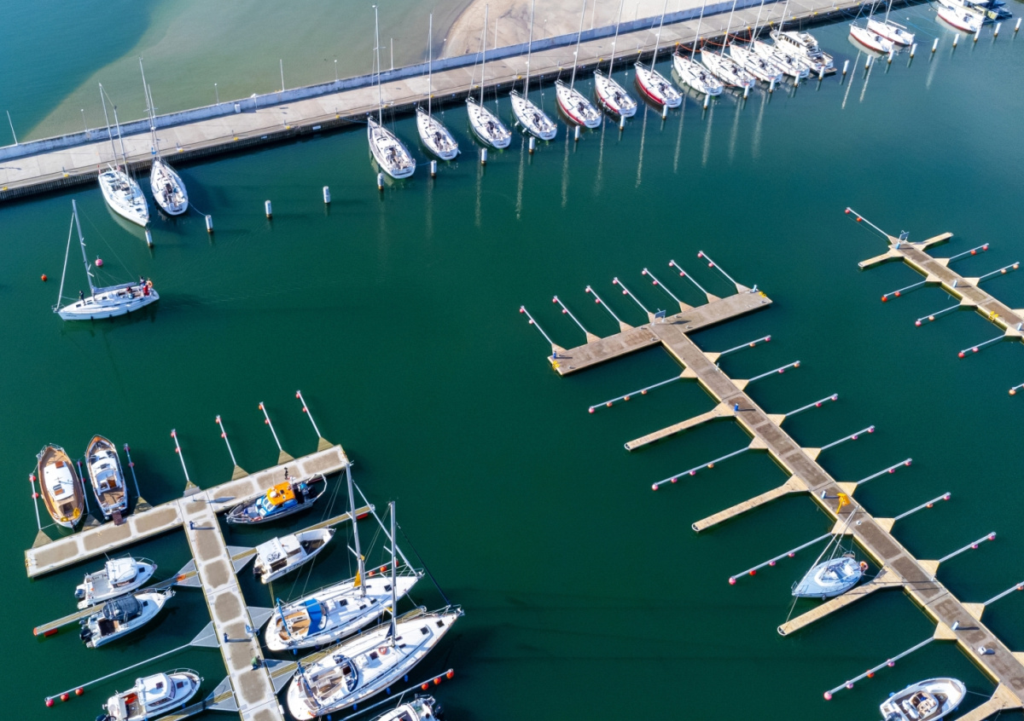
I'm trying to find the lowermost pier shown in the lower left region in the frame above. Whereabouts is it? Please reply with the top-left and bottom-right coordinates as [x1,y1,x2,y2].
[159,677,239,721]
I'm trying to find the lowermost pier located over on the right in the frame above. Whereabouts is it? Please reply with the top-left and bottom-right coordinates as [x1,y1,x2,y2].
[949,680,1019,721]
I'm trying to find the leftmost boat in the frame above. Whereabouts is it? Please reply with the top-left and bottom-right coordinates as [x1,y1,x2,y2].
[35,443,85,534]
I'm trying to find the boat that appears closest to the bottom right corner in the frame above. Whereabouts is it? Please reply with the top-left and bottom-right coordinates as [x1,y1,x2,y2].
[876,682,965,721]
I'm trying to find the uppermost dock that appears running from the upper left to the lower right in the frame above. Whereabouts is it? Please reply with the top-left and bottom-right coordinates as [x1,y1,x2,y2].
[886,240,1024,345]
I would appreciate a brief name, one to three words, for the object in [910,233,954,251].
pier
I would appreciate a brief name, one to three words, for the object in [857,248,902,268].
pier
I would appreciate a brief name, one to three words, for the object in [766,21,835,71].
boat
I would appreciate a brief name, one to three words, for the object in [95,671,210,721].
boat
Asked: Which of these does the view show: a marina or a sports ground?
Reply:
marina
